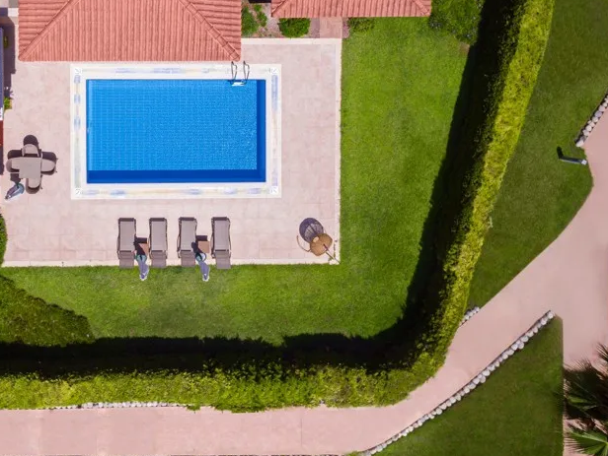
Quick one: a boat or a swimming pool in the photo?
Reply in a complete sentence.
Visible in the photo is a swimming pool.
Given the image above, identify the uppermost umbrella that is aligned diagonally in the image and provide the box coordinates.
[4,182,23,201]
